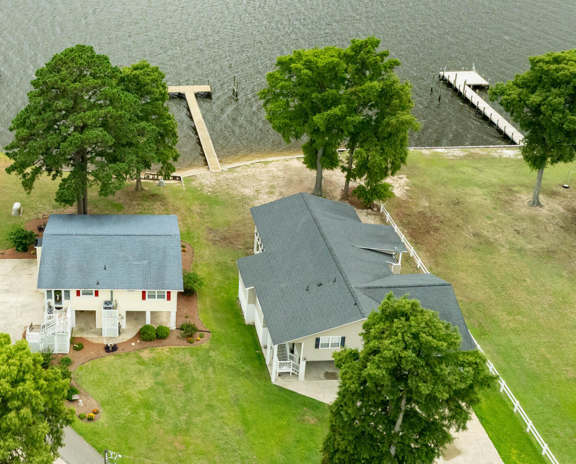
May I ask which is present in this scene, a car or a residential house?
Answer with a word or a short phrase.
residential house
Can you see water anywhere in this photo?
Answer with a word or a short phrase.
Yes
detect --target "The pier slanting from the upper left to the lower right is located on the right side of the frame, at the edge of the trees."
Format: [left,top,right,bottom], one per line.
[430,62,524,145]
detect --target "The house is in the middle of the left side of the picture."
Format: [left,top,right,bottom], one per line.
[36,215,184,328]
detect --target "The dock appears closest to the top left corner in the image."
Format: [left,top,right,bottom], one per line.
[168,79,220,171]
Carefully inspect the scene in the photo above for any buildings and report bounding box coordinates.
[236,192,477,390]
[36,215,184,328]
